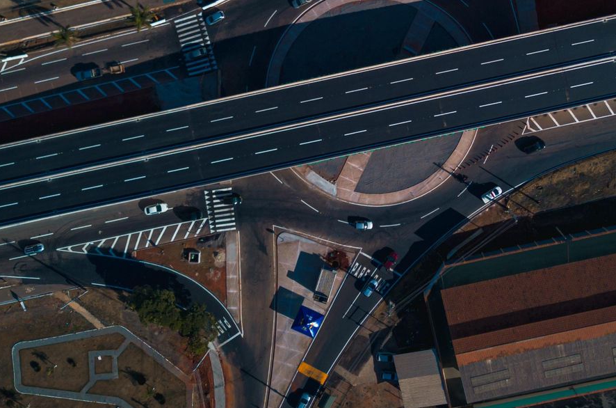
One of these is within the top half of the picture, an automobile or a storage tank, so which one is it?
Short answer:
automobile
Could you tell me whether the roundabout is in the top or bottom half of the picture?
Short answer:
top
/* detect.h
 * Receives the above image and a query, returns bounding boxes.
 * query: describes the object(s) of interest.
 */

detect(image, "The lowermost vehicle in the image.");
[296,392,313,408]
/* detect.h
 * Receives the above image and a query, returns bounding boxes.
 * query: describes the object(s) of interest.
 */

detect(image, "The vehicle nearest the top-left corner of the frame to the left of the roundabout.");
[76,66,103,81]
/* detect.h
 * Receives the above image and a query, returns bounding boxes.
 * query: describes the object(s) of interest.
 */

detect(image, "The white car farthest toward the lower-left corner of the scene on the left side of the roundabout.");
[143,202,169,217]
